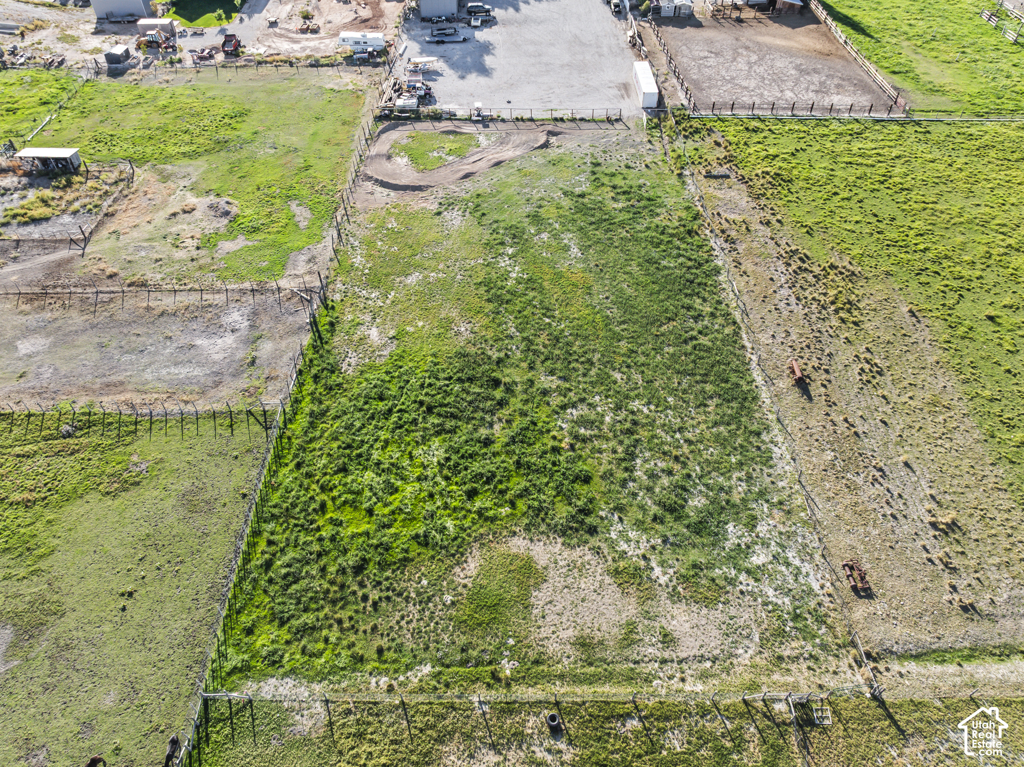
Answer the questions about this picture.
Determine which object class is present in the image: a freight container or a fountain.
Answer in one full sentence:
I can see a freight container in this picture.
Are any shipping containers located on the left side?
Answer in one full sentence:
No, I can find no shipping container on the left side.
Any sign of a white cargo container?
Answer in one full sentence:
Yes, looking at the shot, I can spot a white cargo container.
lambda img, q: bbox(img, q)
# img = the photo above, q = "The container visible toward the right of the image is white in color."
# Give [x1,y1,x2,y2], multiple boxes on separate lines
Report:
[633,61,661,108]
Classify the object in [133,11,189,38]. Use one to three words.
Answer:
shed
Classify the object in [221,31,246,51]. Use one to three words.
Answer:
vehicle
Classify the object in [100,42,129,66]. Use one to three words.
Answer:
shed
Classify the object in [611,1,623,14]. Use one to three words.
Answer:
vehicle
